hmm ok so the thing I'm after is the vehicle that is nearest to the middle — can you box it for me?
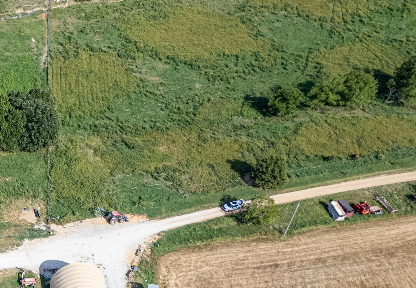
[222,192,250,209]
